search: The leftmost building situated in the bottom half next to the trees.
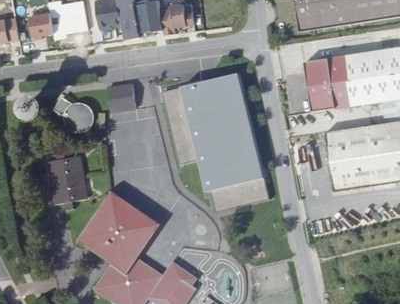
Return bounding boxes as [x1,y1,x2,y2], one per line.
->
[49,156,90,210]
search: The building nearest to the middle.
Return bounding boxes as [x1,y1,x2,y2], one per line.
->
[164,74,270,211]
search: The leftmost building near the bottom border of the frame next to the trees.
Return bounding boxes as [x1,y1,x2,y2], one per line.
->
[78,192,197,304]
